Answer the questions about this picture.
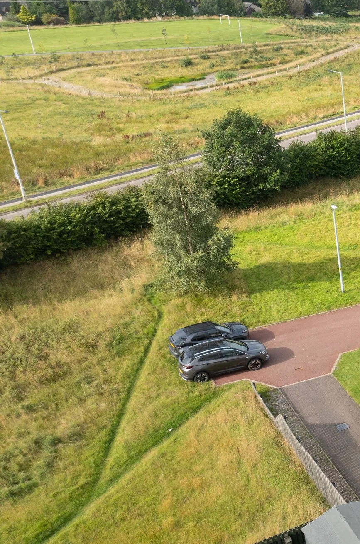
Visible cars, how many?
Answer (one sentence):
The number of cars here is 2.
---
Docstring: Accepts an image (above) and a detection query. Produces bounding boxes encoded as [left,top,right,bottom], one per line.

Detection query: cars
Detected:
[162,320,251,361]
[177,337,270,385]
